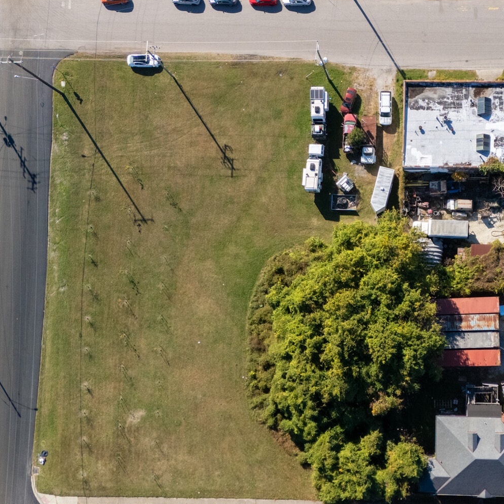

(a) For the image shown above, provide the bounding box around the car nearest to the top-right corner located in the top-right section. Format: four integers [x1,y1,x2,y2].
[378,91,393,126]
